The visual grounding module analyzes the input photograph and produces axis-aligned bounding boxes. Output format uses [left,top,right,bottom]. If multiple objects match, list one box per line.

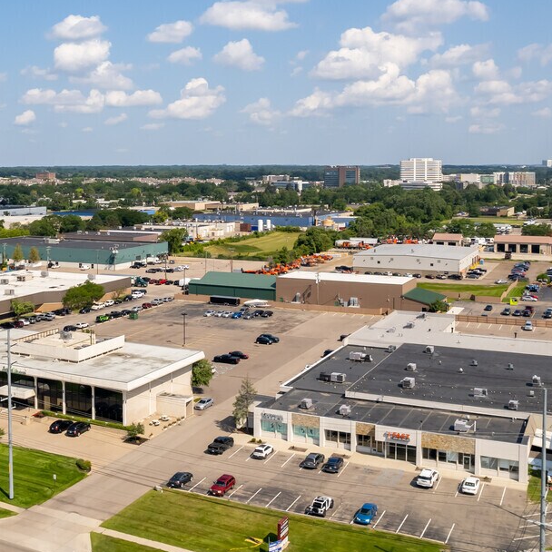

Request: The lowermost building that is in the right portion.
[259,309,552,480]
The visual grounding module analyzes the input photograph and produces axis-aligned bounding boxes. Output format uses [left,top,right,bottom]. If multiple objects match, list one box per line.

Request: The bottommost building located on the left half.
[0,327,206,425]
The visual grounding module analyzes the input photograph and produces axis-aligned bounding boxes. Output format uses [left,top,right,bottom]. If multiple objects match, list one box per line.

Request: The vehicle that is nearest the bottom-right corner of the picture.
[461,478,480,496]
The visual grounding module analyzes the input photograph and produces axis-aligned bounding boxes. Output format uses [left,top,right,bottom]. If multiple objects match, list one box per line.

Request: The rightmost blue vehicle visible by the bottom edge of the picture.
[354,503,378,524]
